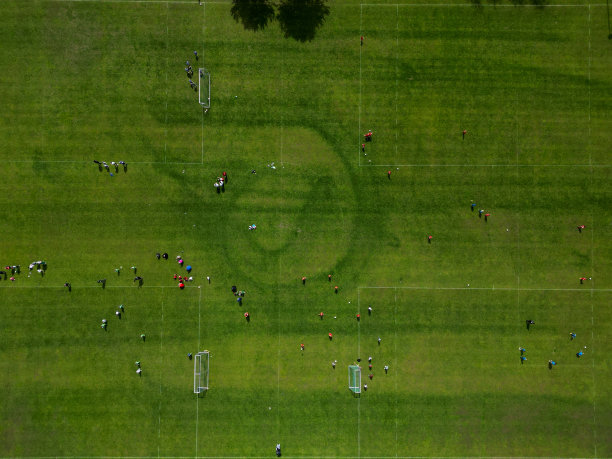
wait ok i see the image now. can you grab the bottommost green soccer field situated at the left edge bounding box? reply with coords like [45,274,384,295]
[0,286,200,458]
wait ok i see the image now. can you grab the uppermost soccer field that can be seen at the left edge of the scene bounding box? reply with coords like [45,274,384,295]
[0,0,205,164]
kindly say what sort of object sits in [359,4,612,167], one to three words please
soccer field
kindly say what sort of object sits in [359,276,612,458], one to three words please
soccer field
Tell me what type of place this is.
sports ground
